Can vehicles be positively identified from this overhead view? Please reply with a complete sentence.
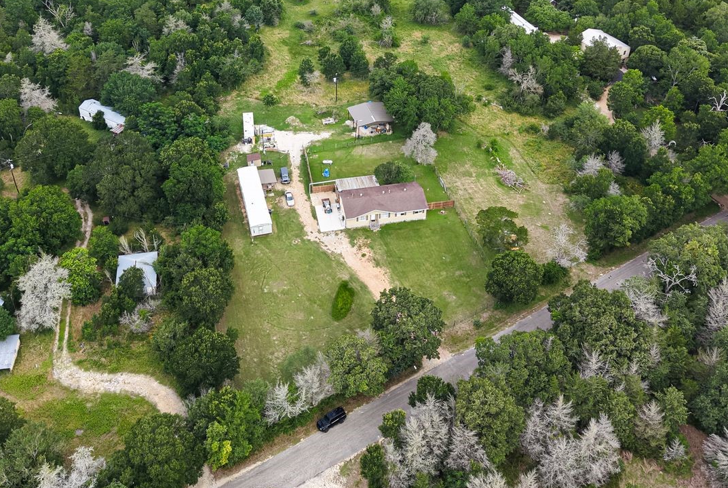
Yes, a vehicle is visible in the scene.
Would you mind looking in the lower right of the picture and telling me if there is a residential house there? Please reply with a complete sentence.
No, there's no residential house to be seen in the lower right of the picture.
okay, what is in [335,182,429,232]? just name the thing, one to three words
house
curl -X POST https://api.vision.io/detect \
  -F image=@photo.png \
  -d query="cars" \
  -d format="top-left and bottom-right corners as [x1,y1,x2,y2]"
[280,167,290,184]
[316,406,348,433]
[285,192,296,207]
